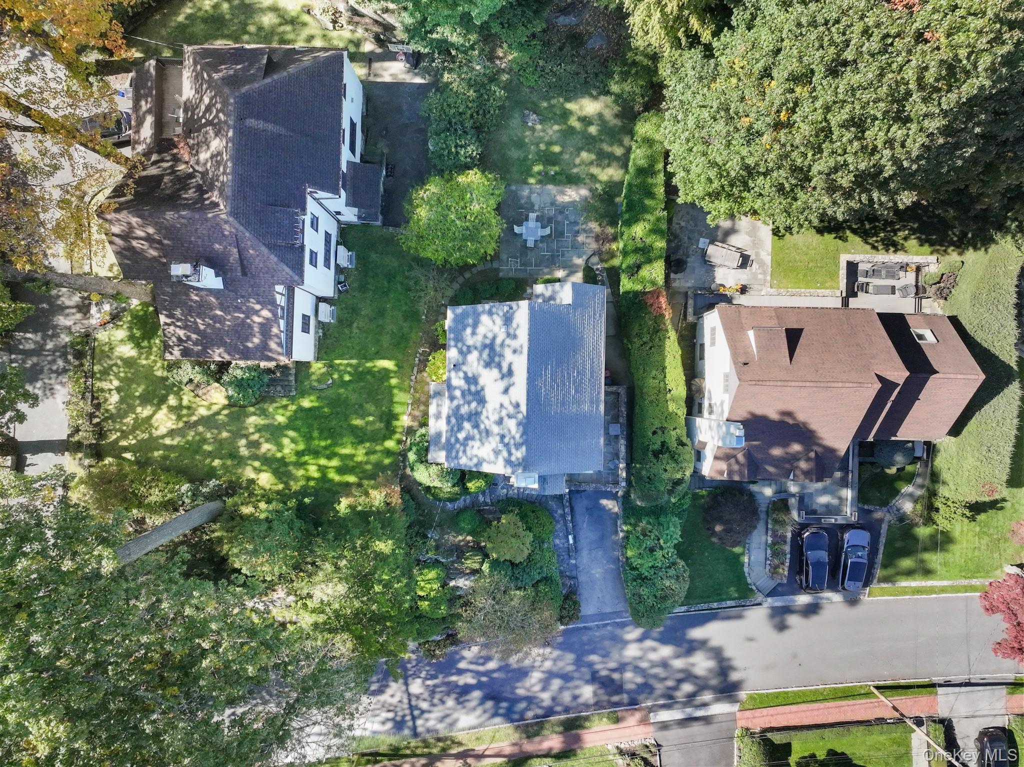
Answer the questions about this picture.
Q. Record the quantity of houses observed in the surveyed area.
3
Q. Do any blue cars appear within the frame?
Yes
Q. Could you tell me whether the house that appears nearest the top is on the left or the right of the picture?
left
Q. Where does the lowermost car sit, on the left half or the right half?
right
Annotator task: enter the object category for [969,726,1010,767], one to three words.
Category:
car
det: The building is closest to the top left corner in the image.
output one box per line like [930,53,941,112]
[99,44,388,360]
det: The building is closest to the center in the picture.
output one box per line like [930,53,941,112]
[429,283,607,495]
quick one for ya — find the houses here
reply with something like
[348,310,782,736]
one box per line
[686,304,984,484]
[429,283,607,495]
[99,44,388,360]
